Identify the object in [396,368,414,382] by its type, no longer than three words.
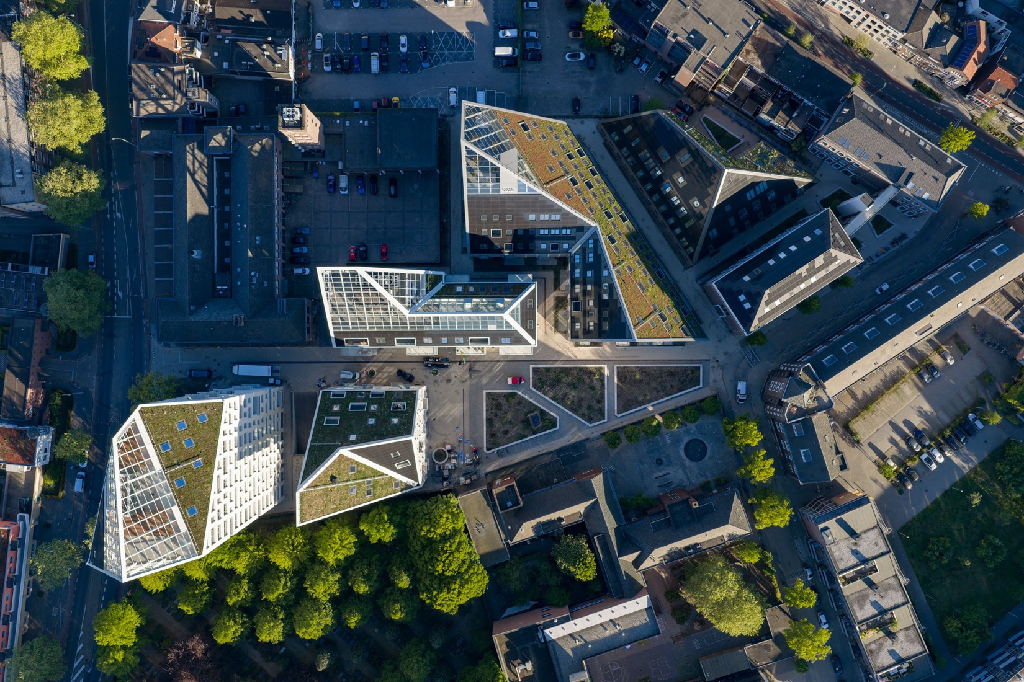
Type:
car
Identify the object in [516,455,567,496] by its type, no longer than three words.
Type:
building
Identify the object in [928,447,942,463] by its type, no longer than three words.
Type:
car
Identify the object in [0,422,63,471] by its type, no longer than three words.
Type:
house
